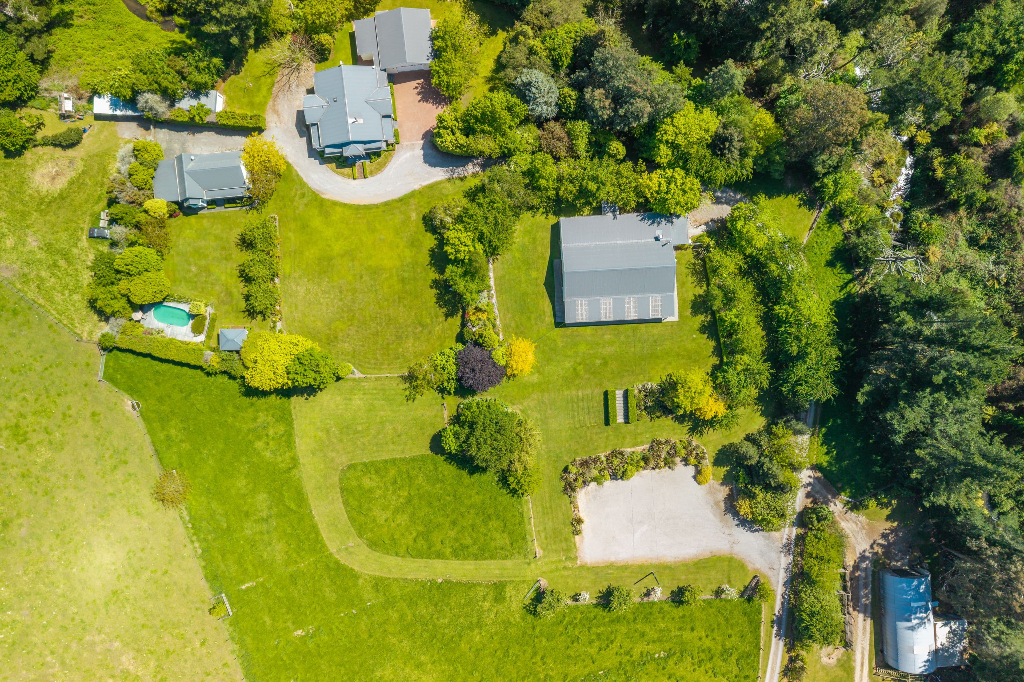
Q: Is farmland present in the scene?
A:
Yes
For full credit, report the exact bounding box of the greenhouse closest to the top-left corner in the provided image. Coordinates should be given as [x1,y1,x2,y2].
[59,92,77,117]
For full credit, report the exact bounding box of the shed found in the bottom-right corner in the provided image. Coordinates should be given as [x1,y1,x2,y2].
[879,569,969,672]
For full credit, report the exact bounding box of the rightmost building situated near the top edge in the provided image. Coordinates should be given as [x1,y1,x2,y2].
[354,7,436,87]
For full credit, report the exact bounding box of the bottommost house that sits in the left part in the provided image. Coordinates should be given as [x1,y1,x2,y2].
[153,150,250,211]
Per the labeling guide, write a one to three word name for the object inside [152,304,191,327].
swimming pool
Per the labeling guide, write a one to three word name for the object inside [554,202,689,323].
barn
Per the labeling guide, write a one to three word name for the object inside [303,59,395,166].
house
